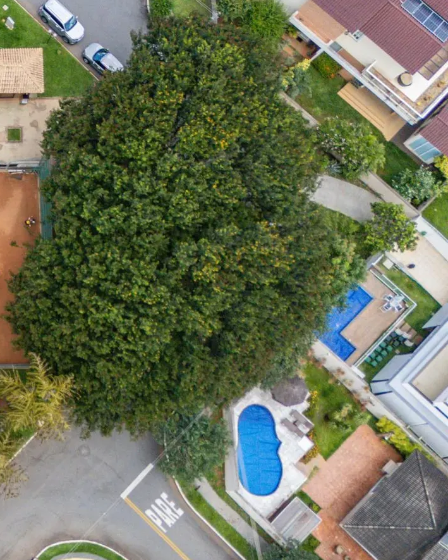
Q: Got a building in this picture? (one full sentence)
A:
Yes, there's a building down there.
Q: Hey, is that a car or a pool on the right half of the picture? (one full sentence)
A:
Visible on the right half of the picture is a pool.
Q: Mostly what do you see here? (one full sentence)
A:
What you mostly see from above here is trees.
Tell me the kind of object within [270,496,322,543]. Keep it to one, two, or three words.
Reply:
shed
